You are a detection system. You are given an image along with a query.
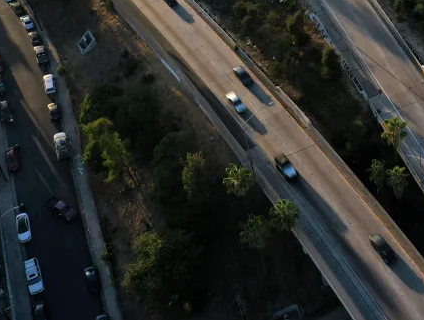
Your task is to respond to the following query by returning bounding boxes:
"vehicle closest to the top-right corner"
[229,64,254,88]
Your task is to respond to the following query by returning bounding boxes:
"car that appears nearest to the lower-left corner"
[30,291,52,320]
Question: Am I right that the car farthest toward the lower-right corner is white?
No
